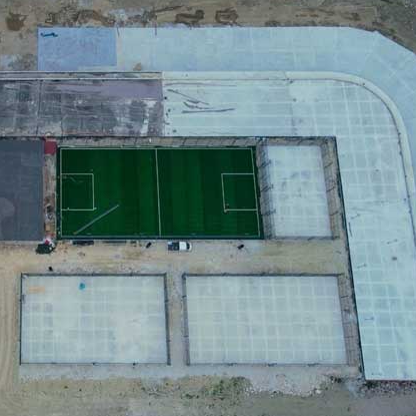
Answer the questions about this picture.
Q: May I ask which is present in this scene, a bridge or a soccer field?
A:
soccer field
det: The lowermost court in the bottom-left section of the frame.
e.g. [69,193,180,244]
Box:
[20,275,168,364]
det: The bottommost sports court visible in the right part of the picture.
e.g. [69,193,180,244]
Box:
[184,275,348,364]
